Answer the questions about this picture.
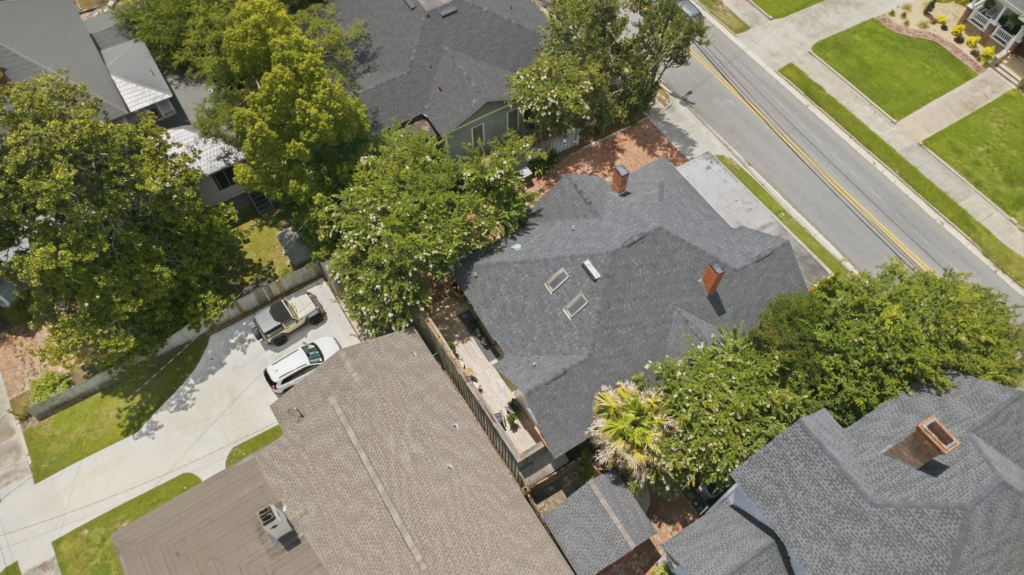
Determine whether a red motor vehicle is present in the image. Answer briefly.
No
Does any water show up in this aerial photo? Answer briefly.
No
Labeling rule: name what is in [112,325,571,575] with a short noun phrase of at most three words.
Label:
house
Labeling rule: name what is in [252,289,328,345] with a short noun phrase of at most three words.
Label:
car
